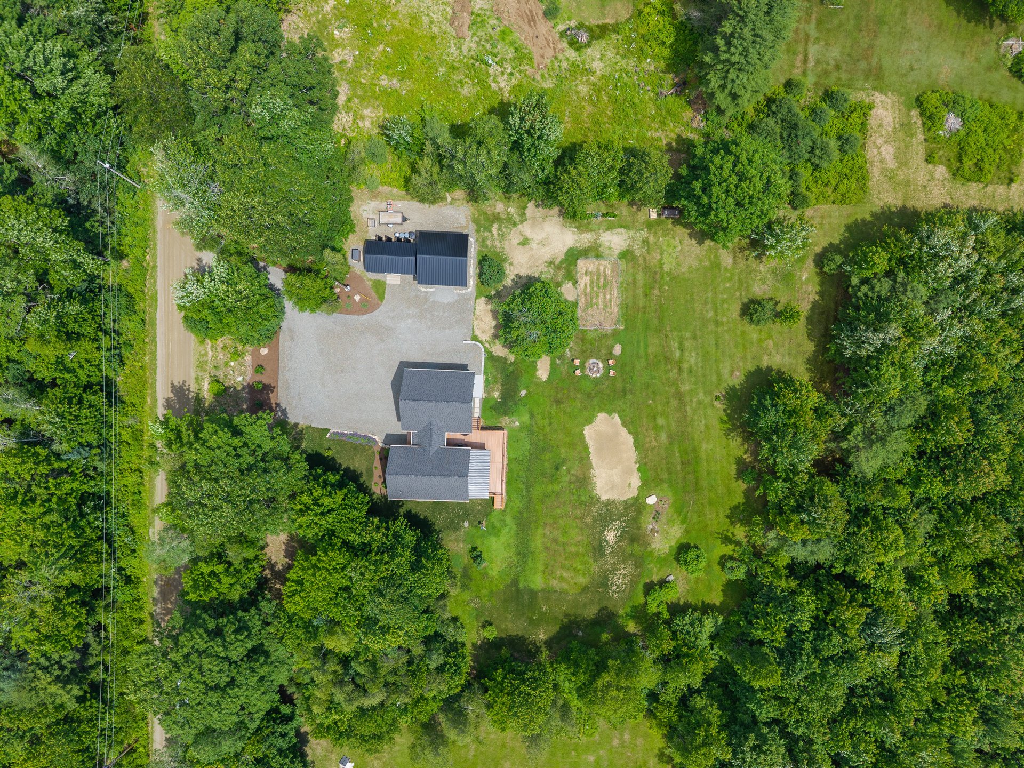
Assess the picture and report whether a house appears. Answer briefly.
Yes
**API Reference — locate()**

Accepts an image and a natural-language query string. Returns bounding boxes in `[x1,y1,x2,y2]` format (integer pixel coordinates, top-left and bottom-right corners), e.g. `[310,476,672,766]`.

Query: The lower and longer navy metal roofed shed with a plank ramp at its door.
[364,241,417,275]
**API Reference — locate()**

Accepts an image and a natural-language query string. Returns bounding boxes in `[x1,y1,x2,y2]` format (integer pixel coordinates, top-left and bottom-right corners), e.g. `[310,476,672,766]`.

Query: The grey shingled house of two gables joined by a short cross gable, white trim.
[386,367,491,503]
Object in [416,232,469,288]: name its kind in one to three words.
shed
